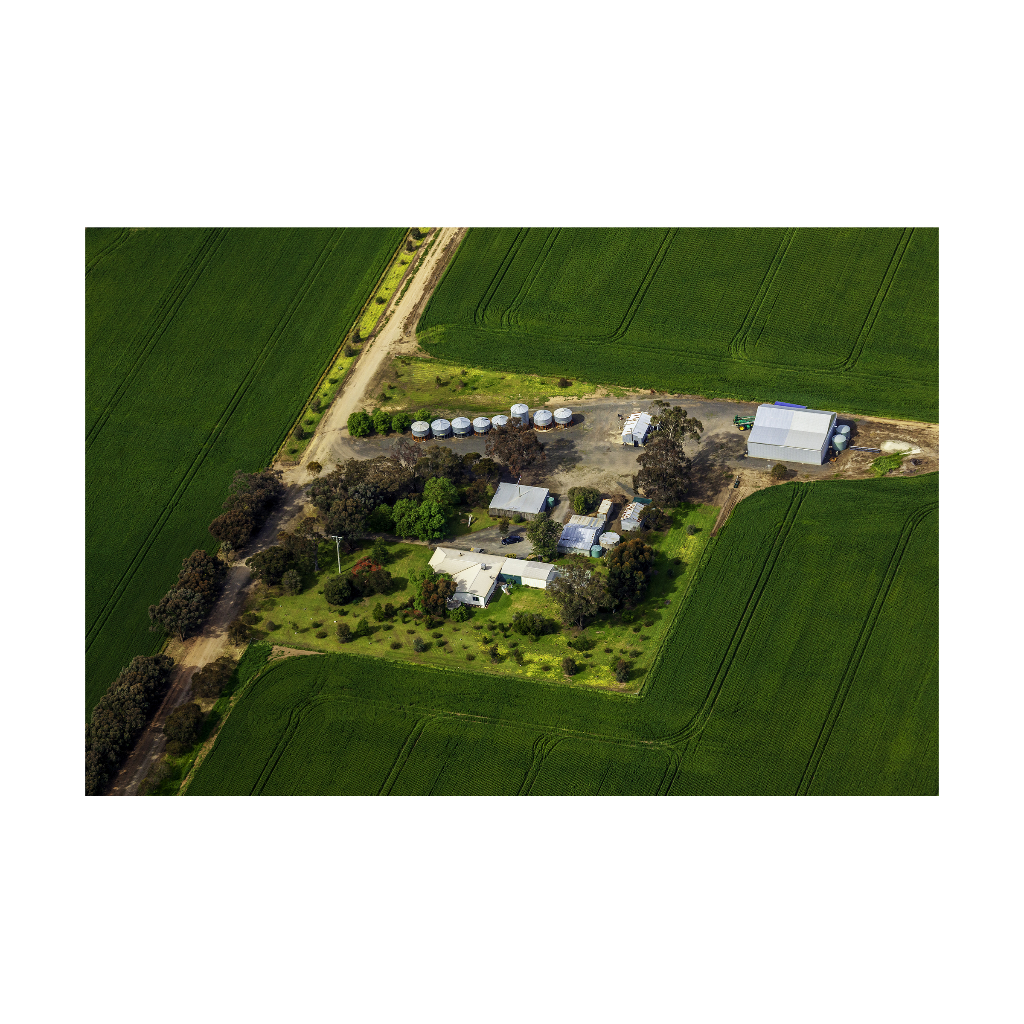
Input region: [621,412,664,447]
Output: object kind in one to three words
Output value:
building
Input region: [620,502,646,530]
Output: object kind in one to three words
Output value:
shed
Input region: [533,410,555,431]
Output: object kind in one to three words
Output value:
silo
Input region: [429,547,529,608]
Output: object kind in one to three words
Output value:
house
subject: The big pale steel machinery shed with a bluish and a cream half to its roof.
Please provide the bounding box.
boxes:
[747,404,838,465]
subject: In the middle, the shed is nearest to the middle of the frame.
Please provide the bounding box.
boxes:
[488,482,550,522]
